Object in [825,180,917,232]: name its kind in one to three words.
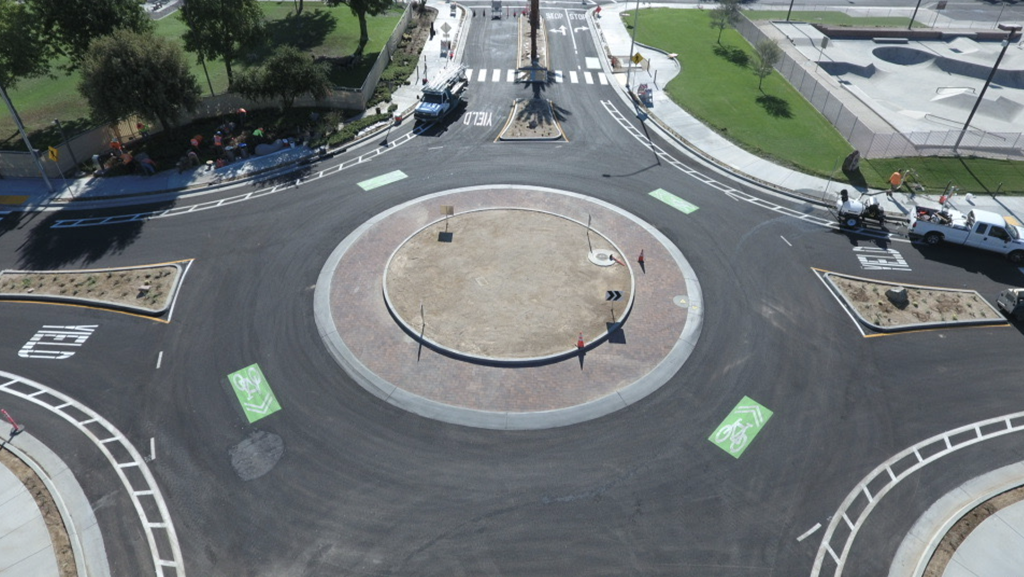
trailer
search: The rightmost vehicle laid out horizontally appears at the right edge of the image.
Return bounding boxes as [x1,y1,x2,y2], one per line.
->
[911,205,1024,264]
